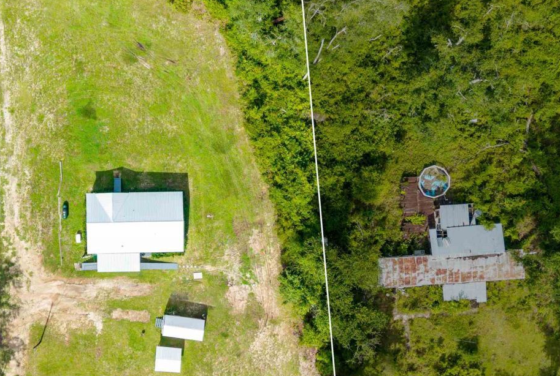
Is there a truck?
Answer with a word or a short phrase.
No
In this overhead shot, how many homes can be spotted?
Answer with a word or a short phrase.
2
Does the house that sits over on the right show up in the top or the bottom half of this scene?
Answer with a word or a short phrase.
bottom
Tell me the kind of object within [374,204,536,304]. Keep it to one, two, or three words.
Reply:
house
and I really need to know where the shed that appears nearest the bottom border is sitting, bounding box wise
[155,345,182,373]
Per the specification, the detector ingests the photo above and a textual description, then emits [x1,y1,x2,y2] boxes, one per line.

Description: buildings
[160,314,205,342]
[374,204,536,304]
[155,345,182,373]
[82,178,184,273]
